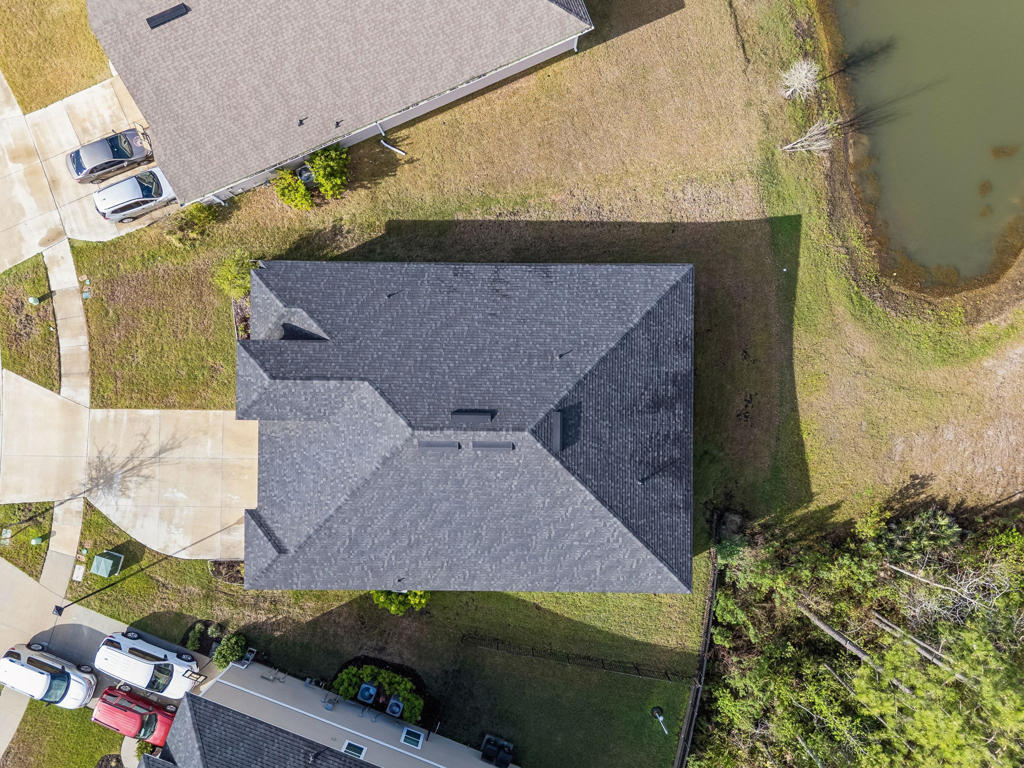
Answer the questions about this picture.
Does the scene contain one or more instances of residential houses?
Yes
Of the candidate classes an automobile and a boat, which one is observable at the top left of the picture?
automobile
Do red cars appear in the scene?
Yes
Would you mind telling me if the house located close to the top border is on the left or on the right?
left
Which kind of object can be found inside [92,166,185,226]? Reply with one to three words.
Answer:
car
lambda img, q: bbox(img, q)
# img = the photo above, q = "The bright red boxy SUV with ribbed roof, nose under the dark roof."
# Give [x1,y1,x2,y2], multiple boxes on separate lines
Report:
[87,679,179,748]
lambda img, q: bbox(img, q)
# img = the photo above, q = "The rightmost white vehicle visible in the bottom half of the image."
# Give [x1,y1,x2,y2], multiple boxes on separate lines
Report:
[94,628,203,698]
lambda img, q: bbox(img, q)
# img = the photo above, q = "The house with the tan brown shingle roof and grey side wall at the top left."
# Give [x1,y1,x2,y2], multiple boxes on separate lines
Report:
[85,0,597,209]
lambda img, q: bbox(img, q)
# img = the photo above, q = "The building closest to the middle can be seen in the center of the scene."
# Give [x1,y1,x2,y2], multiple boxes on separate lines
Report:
[234,259,695,595]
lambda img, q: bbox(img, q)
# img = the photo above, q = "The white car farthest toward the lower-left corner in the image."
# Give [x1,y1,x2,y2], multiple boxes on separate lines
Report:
[0,639,101,709]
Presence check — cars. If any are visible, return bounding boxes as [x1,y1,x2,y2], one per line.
[87,679,179,748]
[0,639,101,709]
[94,628,203,698]
[92,166,185,226]
[60,126,160,188]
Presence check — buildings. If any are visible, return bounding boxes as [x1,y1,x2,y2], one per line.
[139,657,522,768]
[85,0,597,209]
[234,259,695,595]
